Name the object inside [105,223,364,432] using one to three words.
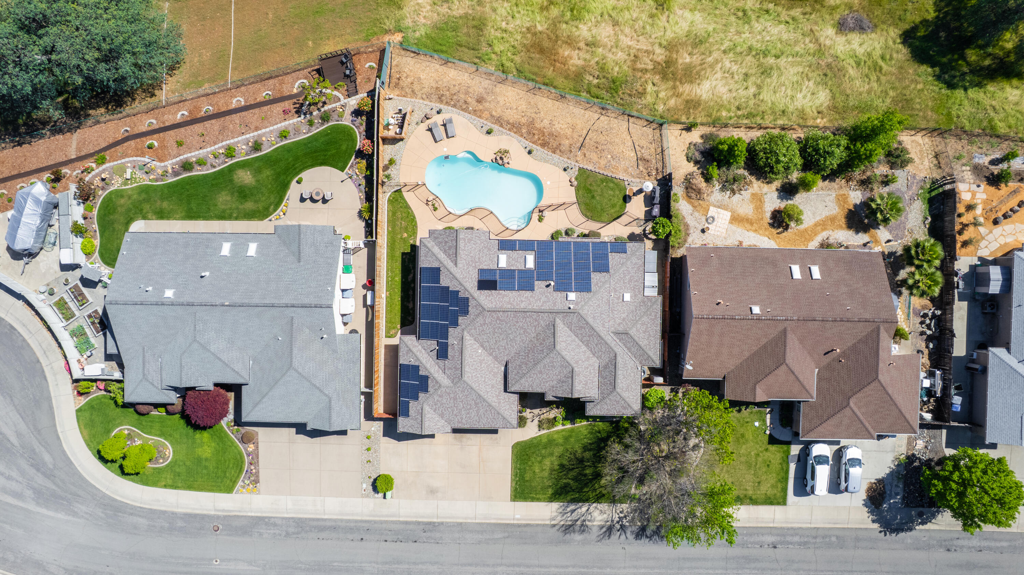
house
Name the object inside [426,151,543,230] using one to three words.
swimming pool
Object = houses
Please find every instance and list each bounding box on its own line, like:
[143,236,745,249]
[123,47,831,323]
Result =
[679,244,922,441]
[970,250,1024,446]
[396,229,664,435]
[105,223,364,432]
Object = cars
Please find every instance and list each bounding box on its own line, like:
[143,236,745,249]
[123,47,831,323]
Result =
[837,444,866,494]
[805,441,835,496]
